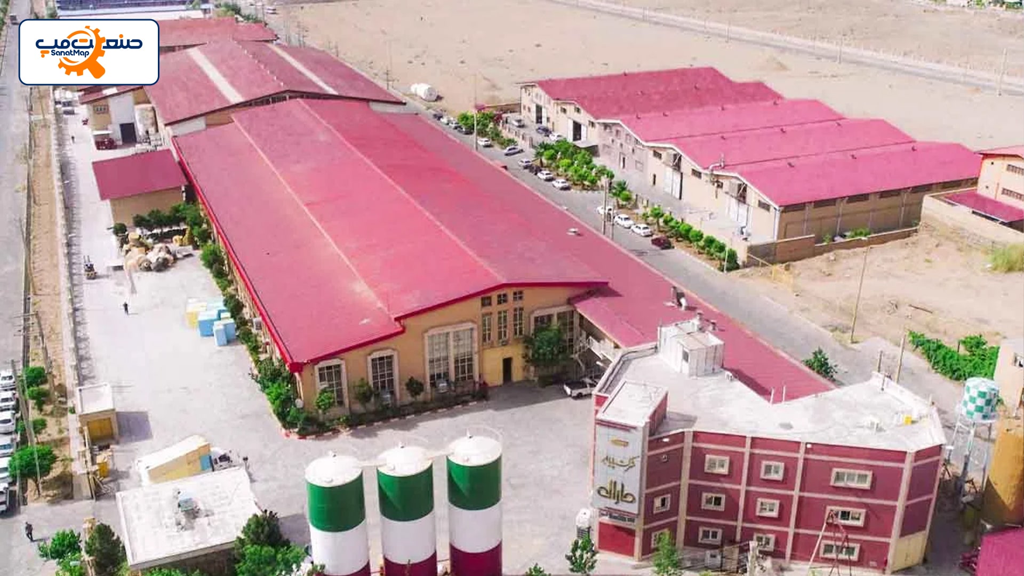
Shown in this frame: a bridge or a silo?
silo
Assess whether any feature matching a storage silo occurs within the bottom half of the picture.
Yes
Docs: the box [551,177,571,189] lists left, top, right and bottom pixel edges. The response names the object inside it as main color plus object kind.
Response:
white vehicle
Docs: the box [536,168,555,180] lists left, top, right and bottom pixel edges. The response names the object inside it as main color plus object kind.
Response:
white vehicle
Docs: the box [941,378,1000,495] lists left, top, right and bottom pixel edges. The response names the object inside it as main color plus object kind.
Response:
white water tower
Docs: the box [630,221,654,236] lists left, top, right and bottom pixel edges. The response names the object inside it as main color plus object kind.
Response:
white car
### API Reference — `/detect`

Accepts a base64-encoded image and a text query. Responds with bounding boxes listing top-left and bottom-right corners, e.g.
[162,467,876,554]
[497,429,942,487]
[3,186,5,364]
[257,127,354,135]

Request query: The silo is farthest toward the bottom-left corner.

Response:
[306,450,369,576]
